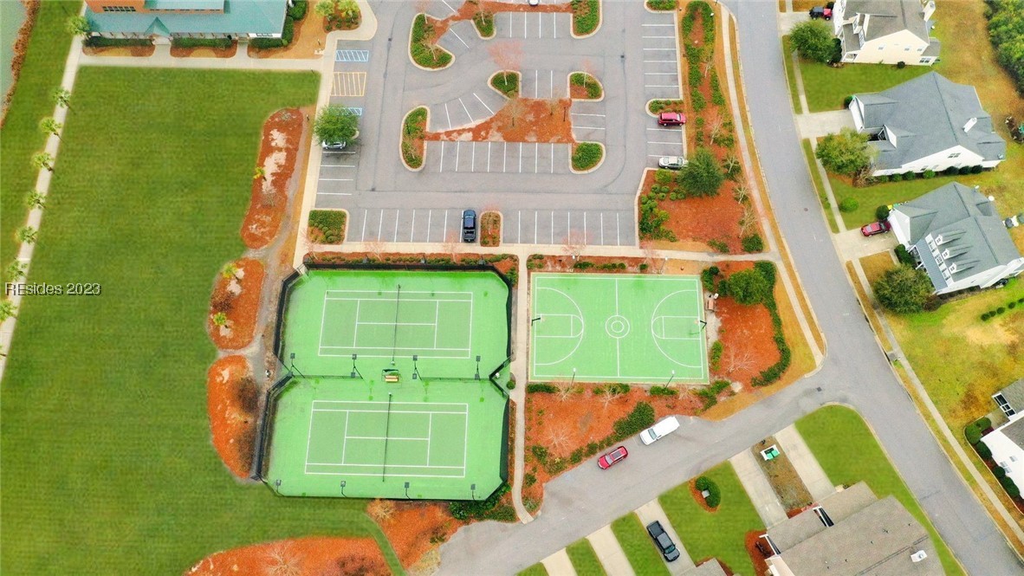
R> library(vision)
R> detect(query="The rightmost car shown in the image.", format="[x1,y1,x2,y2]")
[859,219,890,236]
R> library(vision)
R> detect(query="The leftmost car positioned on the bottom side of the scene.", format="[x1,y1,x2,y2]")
[597,444,630,470]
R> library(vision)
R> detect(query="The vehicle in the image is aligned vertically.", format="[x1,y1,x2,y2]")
[462,211,477,242]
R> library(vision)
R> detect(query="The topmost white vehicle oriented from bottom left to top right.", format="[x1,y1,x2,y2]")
[641,417,681,447]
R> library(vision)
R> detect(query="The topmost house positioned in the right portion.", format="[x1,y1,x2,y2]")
[833,0,940,66]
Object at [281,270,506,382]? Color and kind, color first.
green tennis court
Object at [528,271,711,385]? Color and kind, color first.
green basketball court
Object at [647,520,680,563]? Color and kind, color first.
gray truck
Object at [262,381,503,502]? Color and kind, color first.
green tennis court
